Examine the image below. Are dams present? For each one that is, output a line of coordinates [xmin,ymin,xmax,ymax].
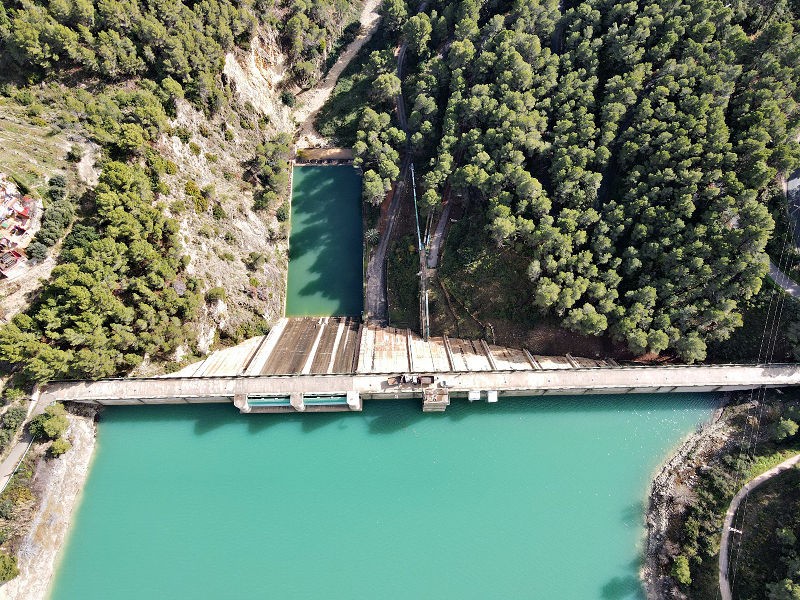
[46,312,800,415]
